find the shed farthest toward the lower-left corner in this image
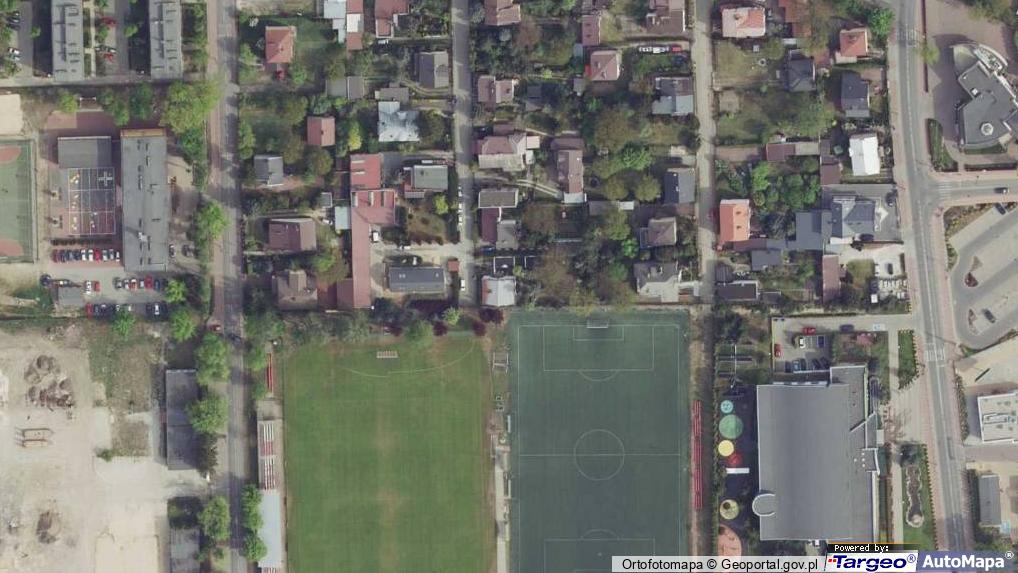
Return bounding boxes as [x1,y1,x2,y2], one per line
[169,526,201,573]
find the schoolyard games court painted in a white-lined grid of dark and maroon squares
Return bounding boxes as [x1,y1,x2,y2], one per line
[69,168,115,235]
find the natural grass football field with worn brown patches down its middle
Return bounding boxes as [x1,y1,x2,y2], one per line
[269,312,510,573]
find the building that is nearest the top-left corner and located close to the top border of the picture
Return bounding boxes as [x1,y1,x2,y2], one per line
[52,0,85,81]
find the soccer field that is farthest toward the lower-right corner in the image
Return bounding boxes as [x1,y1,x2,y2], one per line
[509,309,690,573]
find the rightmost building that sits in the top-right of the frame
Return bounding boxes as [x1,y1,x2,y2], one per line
[949,37,1018,153]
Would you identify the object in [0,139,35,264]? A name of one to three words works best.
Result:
sports court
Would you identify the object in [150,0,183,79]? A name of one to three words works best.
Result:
building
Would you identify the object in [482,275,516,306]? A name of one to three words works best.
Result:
house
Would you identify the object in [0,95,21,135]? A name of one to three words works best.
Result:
sports court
